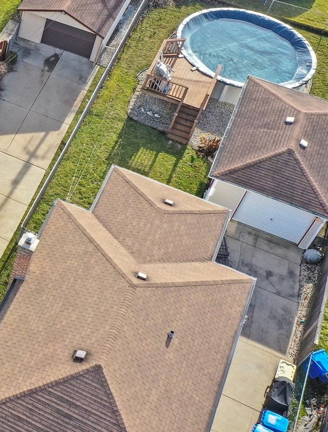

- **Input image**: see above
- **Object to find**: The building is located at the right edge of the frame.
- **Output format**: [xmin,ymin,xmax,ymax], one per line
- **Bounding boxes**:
[203,74,328,248]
